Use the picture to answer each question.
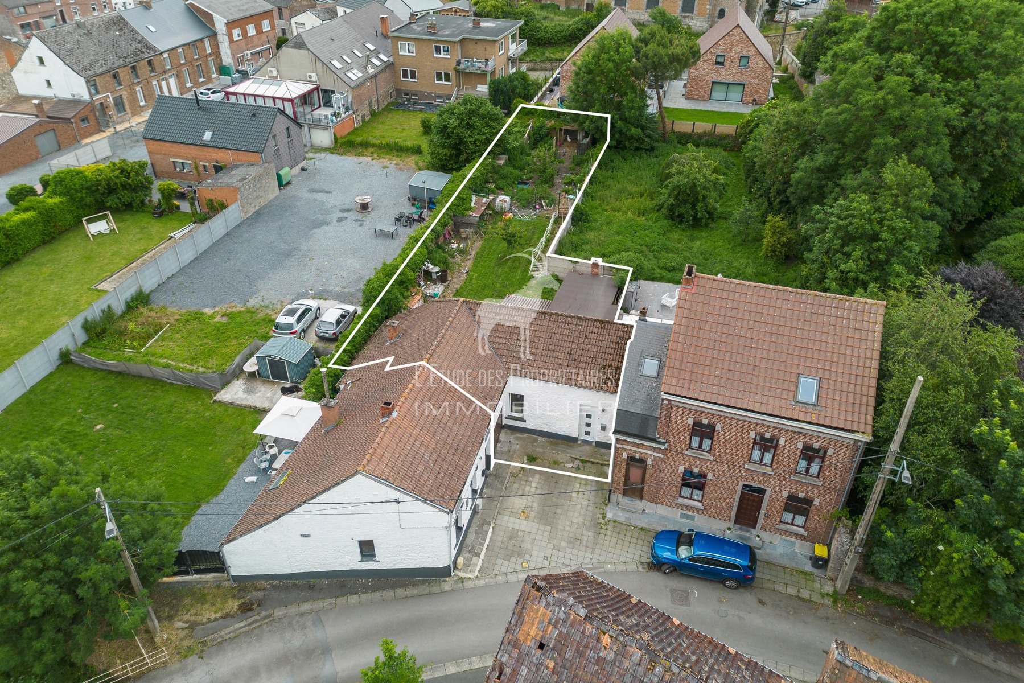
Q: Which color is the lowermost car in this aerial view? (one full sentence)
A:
The color of the lowermost car is blue.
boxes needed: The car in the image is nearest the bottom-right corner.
[650,523,759,586]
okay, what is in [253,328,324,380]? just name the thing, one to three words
shed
